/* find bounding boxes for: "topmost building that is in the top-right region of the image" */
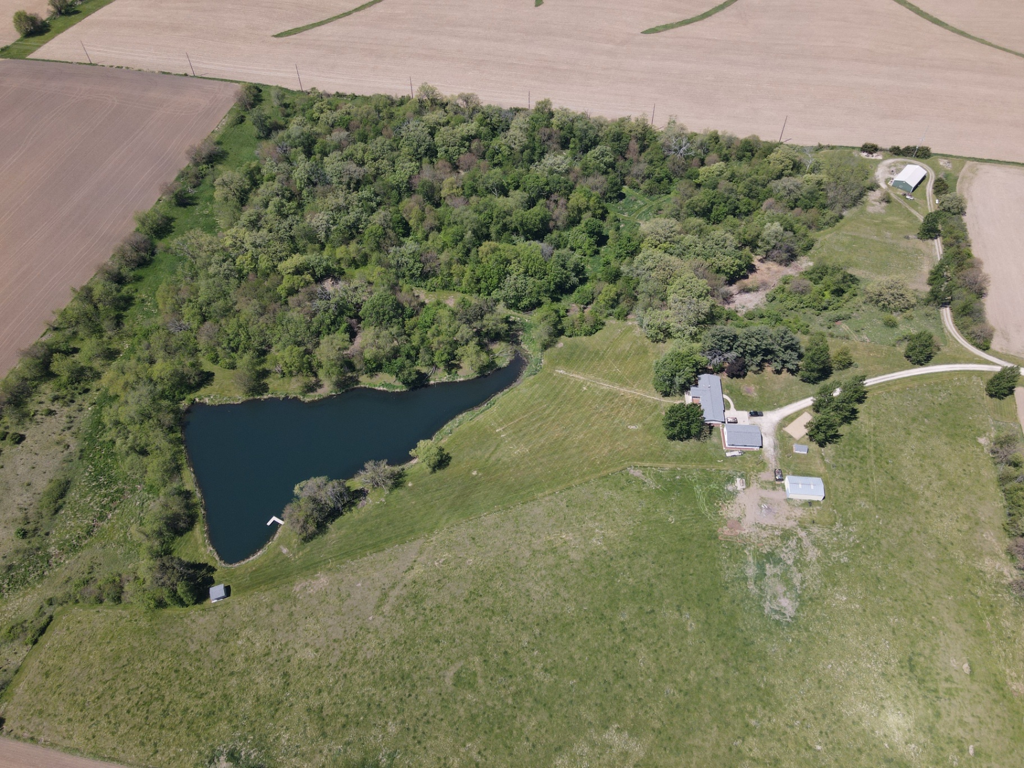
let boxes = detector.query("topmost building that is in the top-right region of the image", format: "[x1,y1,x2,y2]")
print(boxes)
[891,165,927,194]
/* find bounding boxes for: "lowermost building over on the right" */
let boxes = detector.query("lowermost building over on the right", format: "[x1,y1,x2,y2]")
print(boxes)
[784,476,825,501]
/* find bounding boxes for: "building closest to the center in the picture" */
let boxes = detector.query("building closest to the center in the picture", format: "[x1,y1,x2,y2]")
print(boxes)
[689,374,727,426]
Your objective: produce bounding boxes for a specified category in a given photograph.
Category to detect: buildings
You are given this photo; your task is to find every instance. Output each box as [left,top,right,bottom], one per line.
[784,476,825,501]
[689,374,727,426]
[891,165,927,194]
[209,585,227,604]
[724,424,763,450]
[790,444,808,455]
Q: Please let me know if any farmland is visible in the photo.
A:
Yes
